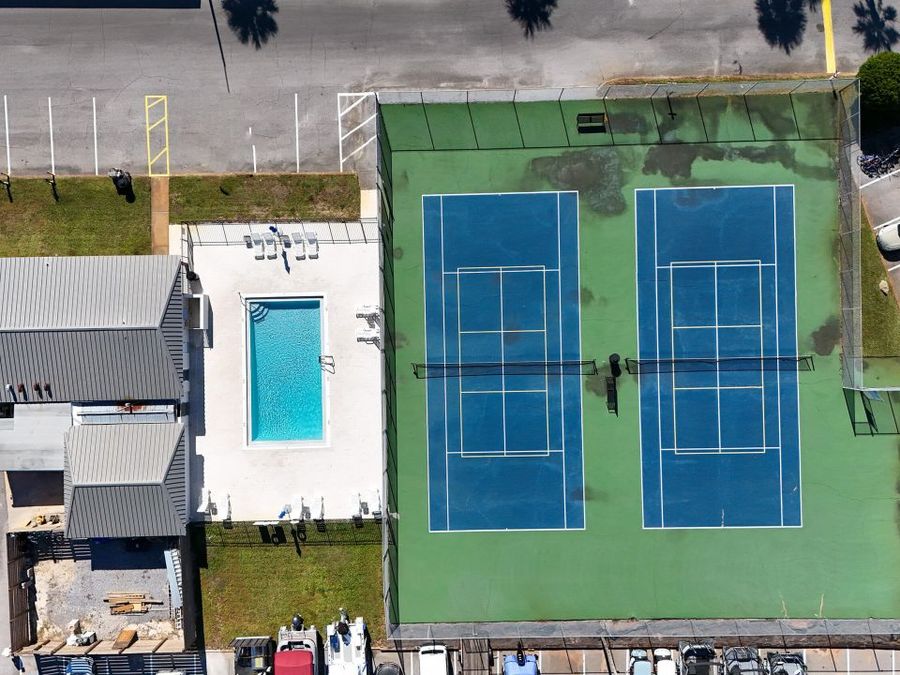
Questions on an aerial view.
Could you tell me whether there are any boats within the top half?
No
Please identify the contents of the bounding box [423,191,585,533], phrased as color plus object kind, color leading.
blue tennis court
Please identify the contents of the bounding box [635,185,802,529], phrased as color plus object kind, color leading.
blue tennis court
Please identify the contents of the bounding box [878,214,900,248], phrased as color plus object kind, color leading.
white car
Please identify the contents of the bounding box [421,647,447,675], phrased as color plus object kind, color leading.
white car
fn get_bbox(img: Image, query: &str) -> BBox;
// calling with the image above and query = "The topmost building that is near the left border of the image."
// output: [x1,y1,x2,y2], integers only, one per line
[0,255,194,402]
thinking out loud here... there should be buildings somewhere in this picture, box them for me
[0,255,194,402]
[63,420,197,539]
